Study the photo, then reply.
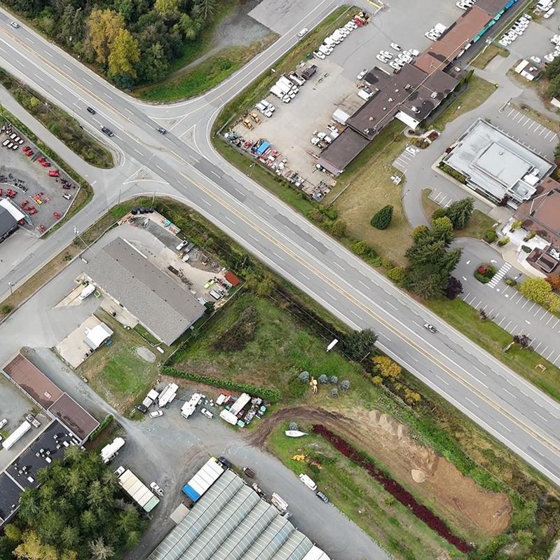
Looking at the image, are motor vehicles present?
Yes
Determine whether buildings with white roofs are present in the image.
Yes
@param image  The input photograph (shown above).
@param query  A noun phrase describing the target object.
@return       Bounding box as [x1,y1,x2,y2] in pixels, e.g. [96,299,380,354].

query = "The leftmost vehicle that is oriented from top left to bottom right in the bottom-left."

[24,413,42,427]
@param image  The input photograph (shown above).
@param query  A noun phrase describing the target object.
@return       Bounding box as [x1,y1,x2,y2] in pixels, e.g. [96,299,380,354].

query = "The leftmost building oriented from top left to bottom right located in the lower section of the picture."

[3,354,65,418]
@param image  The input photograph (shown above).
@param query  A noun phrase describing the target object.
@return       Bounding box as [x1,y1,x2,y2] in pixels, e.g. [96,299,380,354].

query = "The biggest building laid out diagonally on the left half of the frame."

[82,237,206,348]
